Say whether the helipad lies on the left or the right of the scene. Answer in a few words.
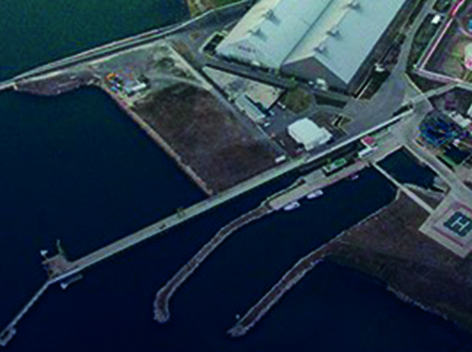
right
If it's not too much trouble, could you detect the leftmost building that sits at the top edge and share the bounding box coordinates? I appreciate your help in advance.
[215,0,331,73]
